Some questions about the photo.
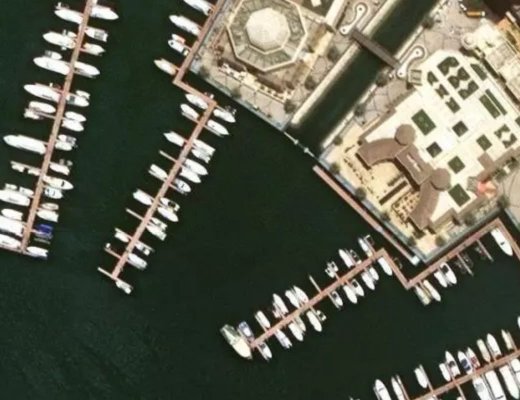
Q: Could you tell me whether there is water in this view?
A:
Yes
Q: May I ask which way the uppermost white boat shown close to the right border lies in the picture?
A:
on a diagonal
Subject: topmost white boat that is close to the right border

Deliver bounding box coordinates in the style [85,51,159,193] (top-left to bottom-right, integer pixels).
[492,228,513,257]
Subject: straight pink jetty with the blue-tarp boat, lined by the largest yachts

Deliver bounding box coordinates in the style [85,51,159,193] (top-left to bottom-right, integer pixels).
[10,0,111,259]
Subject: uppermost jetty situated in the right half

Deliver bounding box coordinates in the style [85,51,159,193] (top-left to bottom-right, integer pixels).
[313,166,420,262]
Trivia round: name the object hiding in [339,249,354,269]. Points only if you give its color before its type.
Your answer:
white boat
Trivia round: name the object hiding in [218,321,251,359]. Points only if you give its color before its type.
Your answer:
white ship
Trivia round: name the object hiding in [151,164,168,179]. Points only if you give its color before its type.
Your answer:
white boat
